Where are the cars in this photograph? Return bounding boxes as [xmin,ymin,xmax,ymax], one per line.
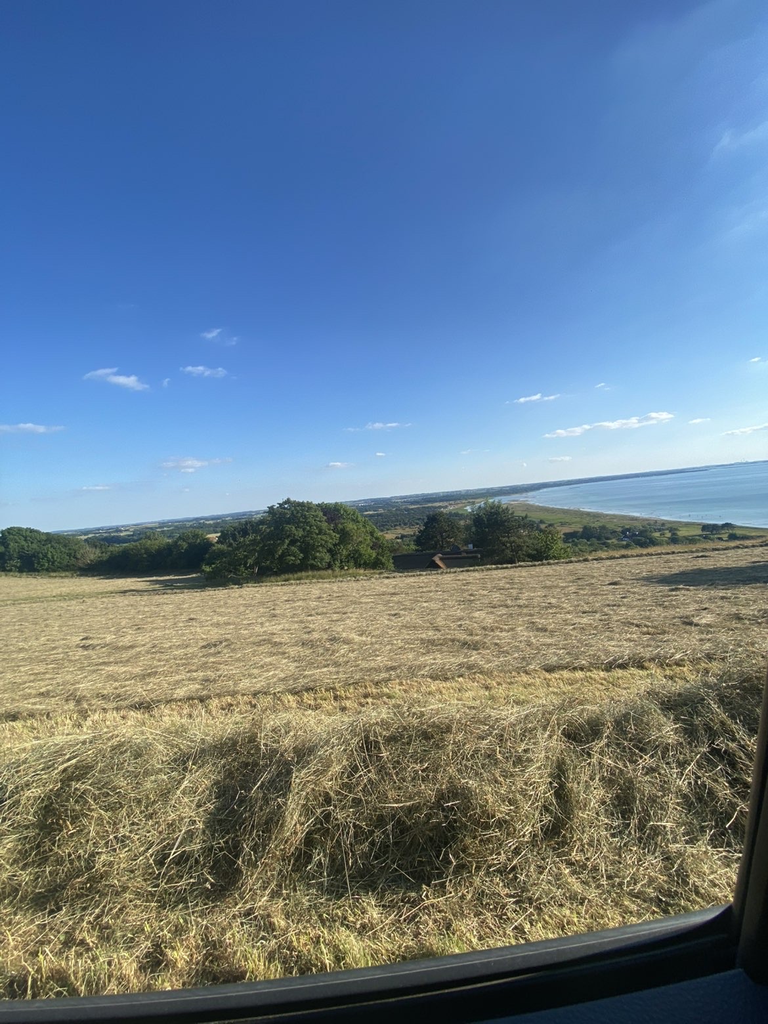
[0,644,768,1024]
